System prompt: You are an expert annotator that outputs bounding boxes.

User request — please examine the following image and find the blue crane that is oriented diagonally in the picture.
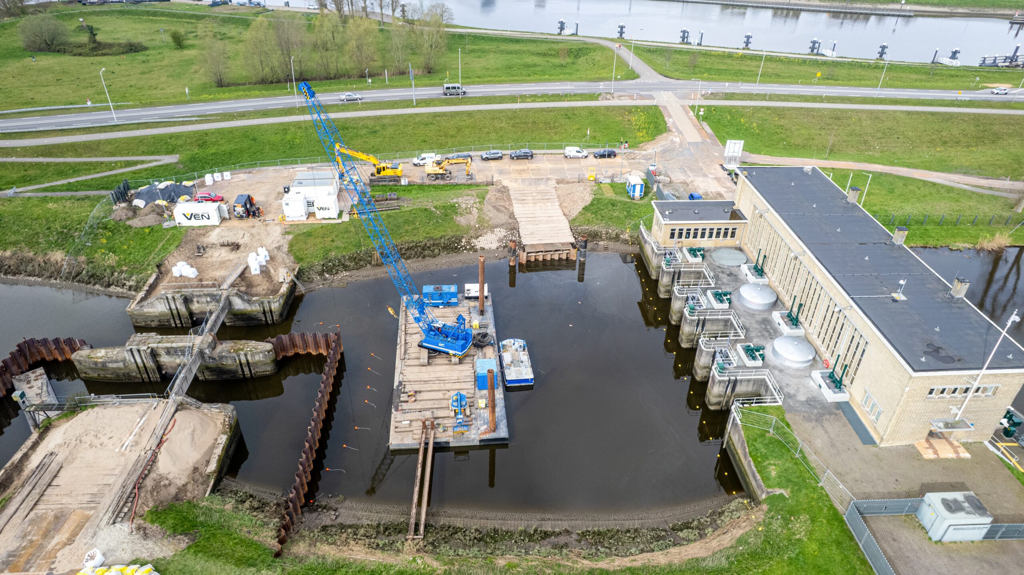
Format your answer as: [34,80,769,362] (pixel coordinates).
[293,82,475,365]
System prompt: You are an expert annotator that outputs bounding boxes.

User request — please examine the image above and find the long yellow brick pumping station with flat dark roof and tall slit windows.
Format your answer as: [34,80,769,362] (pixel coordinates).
[729,165,1024,446]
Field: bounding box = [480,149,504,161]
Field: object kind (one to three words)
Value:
vehicle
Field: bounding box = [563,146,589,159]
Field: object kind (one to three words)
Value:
vehicle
